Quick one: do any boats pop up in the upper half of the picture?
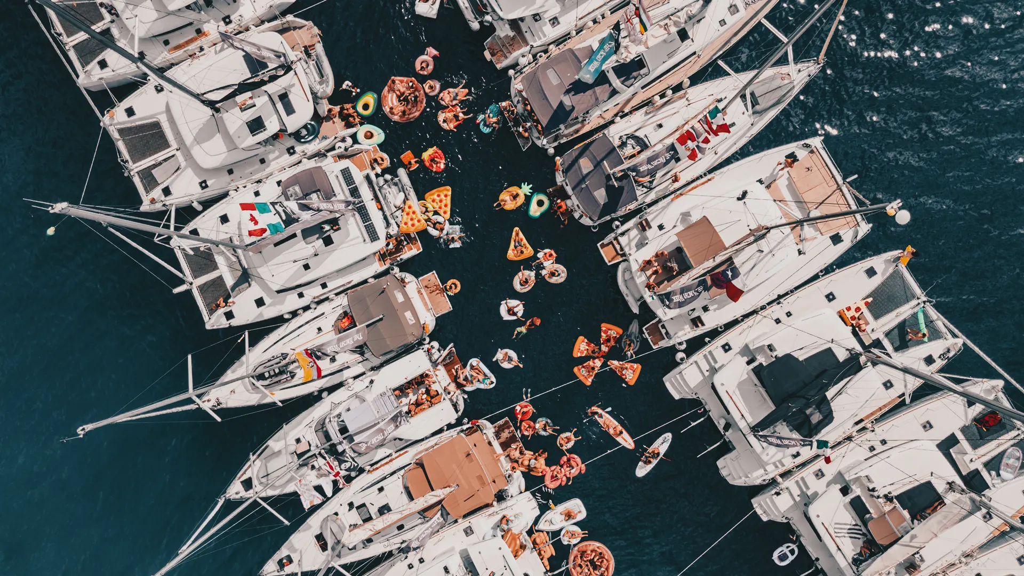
Yes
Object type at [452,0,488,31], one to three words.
boat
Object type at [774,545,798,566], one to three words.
boat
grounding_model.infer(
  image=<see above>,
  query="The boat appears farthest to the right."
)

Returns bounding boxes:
[1002,444,1023,481]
